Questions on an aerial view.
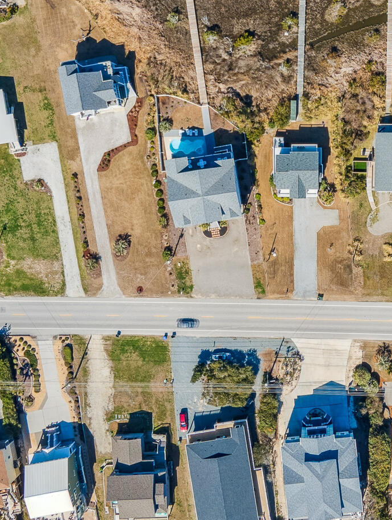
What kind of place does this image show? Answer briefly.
residential area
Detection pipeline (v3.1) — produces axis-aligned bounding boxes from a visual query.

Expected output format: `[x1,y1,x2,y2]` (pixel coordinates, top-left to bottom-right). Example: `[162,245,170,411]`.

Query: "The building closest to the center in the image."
[164,145,242,230]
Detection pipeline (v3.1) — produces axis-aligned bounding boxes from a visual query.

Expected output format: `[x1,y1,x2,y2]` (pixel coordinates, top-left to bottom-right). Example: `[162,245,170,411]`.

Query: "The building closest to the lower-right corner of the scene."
[282,405,363,520]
